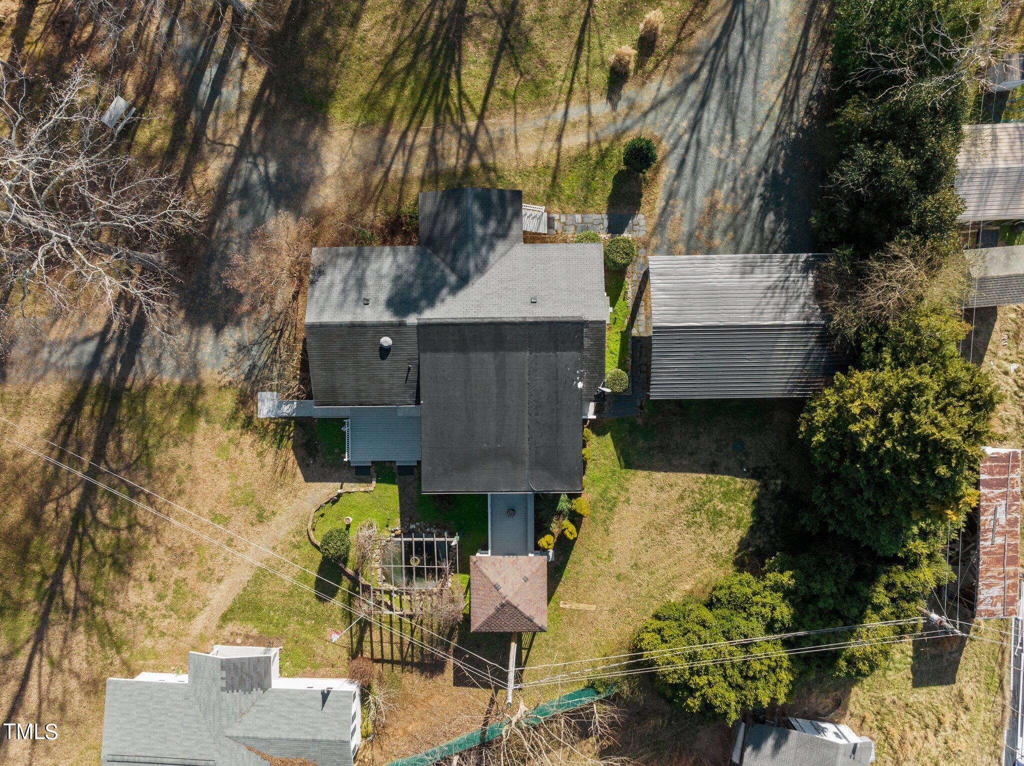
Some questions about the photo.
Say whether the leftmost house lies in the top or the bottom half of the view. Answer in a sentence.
The leftmost house is in the bottom half of the image.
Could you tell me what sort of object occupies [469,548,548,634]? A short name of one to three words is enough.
gazebo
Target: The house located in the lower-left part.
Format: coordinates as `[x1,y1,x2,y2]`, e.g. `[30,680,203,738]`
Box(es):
[96,646,360,766]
